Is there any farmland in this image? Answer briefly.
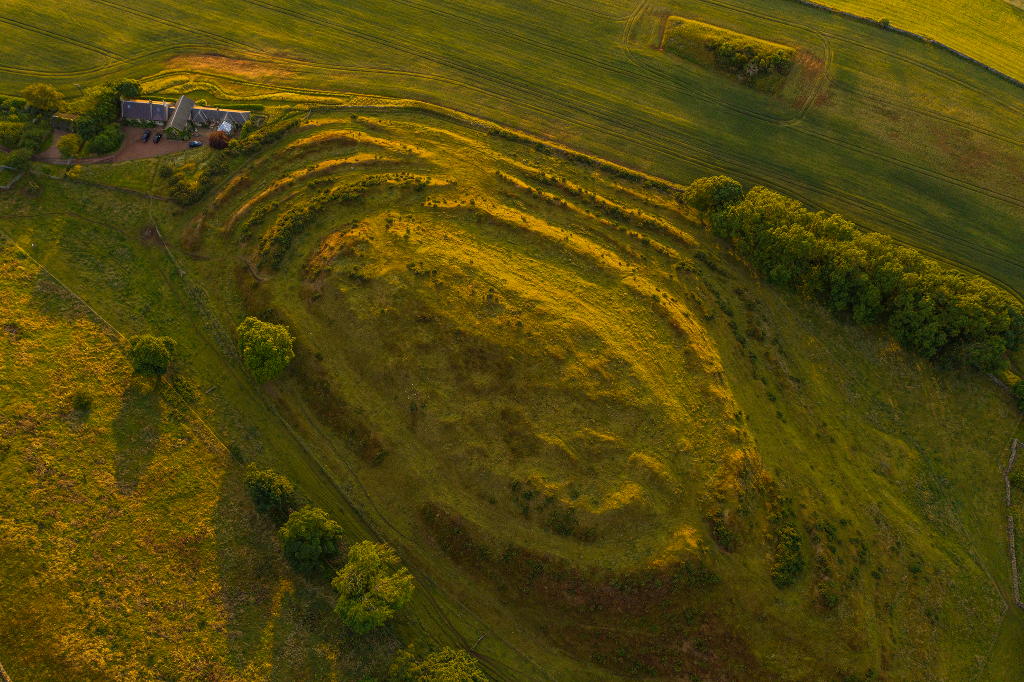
Yes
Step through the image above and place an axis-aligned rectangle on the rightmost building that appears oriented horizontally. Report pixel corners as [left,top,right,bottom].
[121,93,254,138]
